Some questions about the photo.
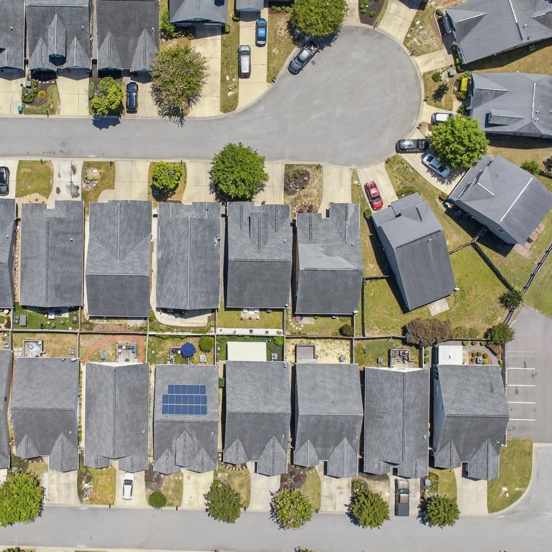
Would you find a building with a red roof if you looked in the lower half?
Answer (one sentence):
No, no building with a red roof is visible in the lower half.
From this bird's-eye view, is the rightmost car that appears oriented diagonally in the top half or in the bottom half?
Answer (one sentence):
Seen from above, the rightmost car that appears oriented diagonally lies in the top half of the view.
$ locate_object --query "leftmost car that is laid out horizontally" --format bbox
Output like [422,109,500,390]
[398,139,425,152]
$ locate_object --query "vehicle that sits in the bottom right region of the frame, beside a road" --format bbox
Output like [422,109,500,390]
[396,480,409,516]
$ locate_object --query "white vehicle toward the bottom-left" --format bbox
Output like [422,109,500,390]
[122,473,134,498]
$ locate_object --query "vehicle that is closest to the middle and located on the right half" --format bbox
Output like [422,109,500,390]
[364,182,382,209]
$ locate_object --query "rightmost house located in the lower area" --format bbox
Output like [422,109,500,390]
[432,364,512,485]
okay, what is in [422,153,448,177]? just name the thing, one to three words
car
